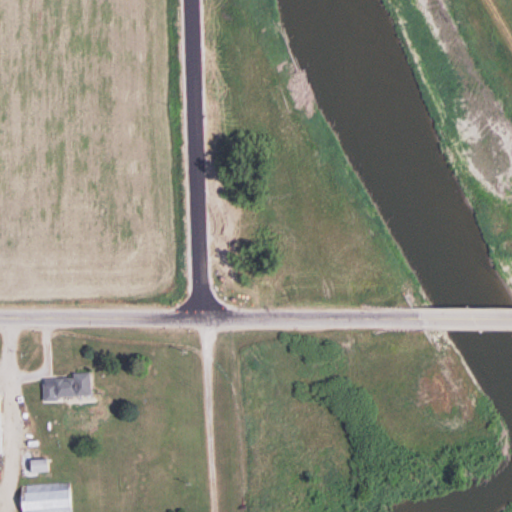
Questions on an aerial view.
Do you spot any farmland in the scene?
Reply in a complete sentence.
Yes, there is farmland in the image.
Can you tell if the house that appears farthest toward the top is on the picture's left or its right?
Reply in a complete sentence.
The house that appears farthest toward the top appears in the left half of the scene.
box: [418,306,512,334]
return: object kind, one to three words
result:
bridge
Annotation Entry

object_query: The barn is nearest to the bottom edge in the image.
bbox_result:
[20,484,70,512]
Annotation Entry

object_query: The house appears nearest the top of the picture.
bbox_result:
[42,372,98,409]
